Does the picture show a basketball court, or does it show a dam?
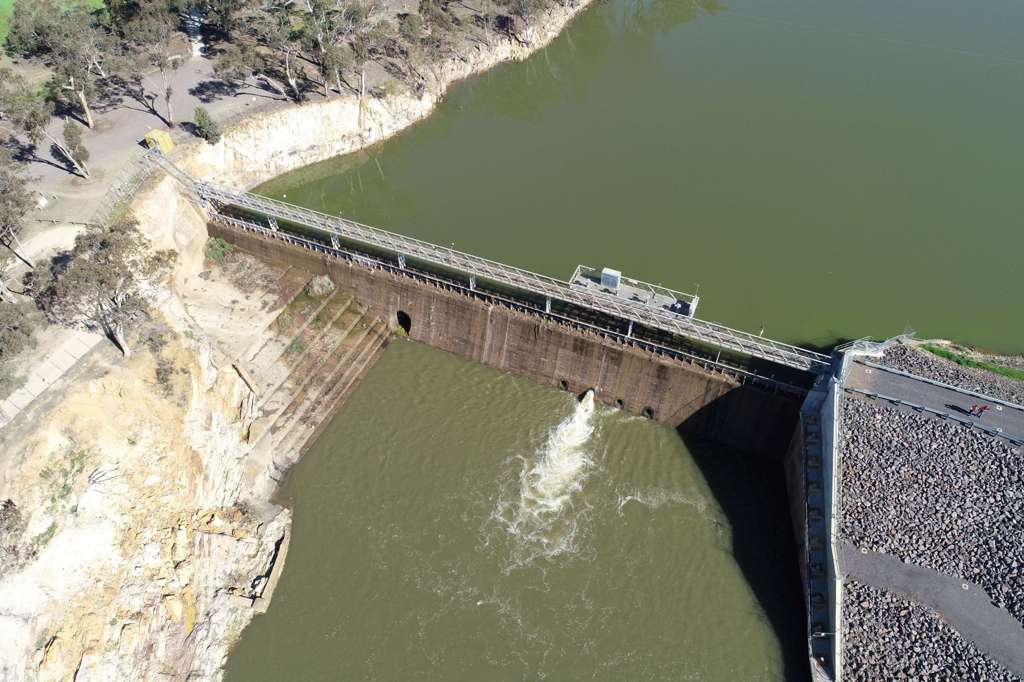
dam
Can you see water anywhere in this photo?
Yes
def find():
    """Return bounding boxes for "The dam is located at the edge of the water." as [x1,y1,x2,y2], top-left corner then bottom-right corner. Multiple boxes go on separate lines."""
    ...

[203,217,805,461]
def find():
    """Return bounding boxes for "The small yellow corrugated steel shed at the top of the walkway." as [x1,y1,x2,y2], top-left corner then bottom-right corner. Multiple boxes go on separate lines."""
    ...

[144,129,179,155]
